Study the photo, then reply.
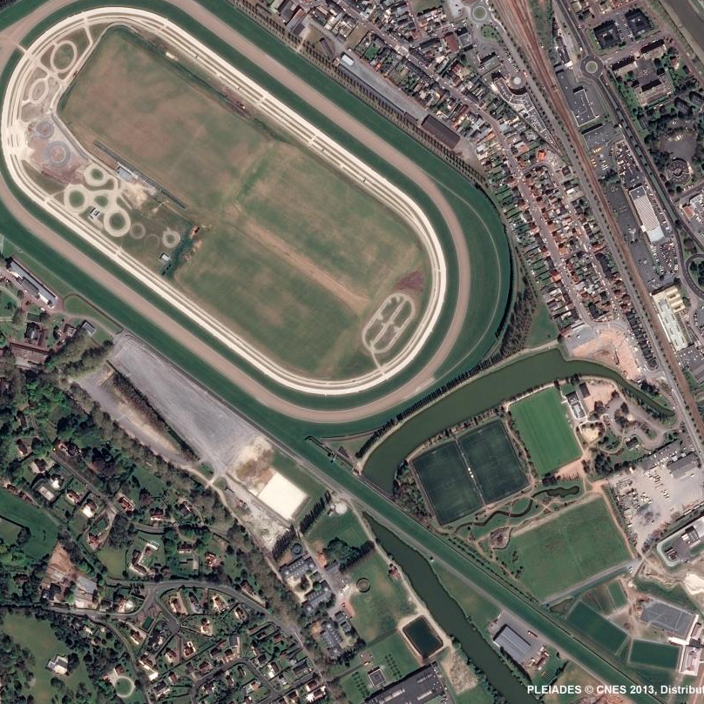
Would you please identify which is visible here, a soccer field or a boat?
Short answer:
soccer field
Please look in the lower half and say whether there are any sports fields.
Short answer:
Yes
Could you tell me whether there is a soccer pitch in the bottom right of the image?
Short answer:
Yes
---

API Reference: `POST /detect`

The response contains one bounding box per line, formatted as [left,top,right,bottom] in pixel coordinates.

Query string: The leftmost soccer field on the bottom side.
[412,442,484,524]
